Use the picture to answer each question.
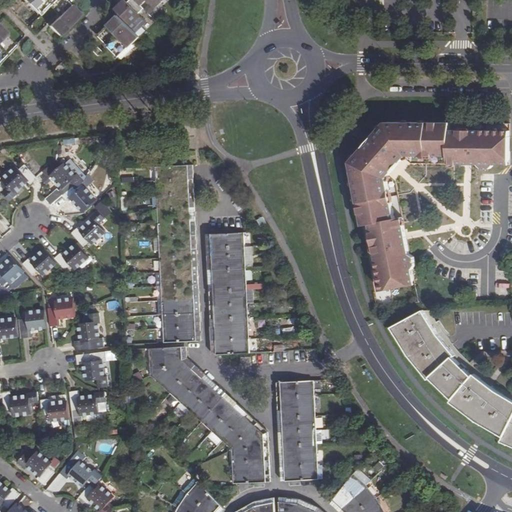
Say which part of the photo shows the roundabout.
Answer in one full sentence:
Look in the top portion of the view to spot the roundabout.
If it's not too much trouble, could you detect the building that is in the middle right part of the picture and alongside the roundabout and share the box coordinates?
[346,122,510,300]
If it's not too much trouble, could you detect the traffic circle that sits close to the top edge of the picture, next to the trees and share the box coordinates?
[222,0,349,124]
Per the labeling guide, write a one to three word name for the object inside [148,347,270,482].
building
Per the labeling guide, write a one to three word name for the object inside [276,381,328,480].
building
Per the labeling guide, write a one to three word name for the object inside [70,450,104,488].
house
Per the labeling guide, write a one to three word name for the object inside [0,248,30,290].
house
